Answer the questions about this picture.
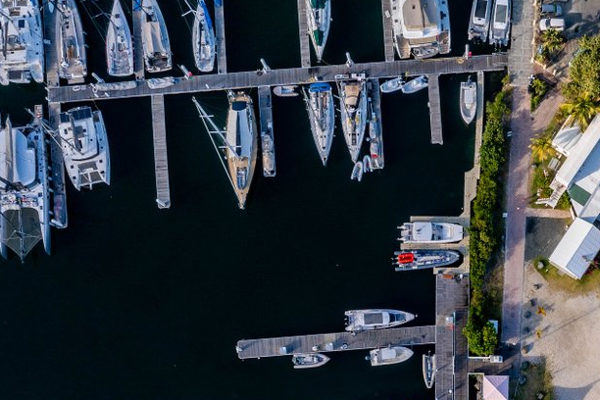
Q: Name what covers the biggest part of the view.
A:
water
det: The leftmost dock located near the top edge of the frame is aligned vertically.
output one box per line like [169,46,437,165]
[44,0,60,87]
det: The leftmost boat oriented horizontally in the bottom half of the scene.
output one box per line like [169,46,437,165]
[292,353,329,369]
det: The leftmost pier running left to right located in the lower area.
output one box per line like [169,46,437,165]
[237,326,436,360]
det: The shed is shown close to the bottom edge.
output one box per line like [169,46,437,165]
[483,376,509,400]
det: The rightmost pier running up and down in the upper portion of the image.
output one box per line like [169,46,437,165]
[428,75,443,145]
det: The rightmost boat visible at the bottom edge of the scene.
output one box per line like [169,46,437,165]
[423,354,436,387]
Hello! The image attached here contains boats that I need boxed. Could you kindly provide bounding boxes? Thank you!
[397,222,463,243]
[390,0,453,62]
[124,0,170,76]
[349,162,362,183]
[362,156,371,175]
[423,354,436,387]
[341,308,415,331]
[0,0,46,89]
[187,78,255,209]
[301,0,330,64]
[292,353,329,369]
[369,113,379,140]
[177,0,215,75]
[30,0,89,86]
[394,251,459,271]
[264,148,276,171]
[0,106,52,257]
[149,78,176,87]
[276,86,300,95]
[403,77,428,94]
[331,77,368,163]
[18,101,111,192]
[380,78,403,93]
[83,0,131,78]
[370,143,379,168]
[490,0,510,51]
[459,78,476,125]
[364,347,413,367]
[297,79,337,167]
[467,0,487,46]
